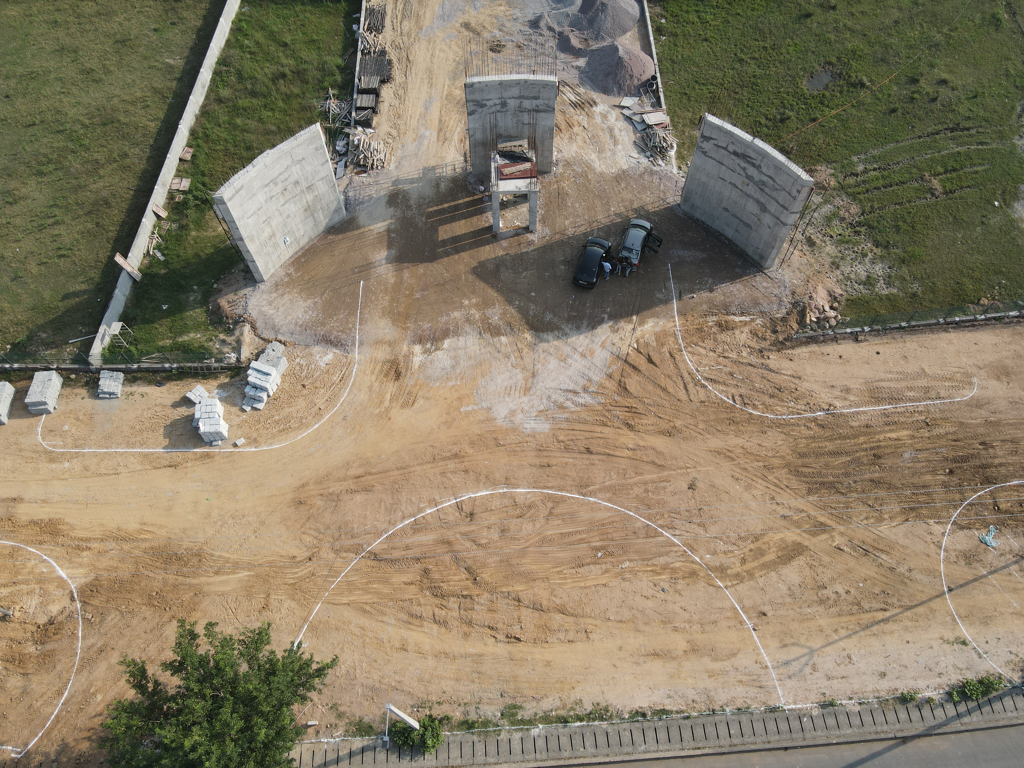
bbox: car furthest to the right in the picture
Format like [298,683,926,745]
[618,217,665,272]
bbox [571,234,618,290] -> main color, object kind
black car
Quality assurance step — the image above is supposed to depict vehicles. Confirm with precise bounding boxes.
[571,234,618,290]
[618,217,665,272]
